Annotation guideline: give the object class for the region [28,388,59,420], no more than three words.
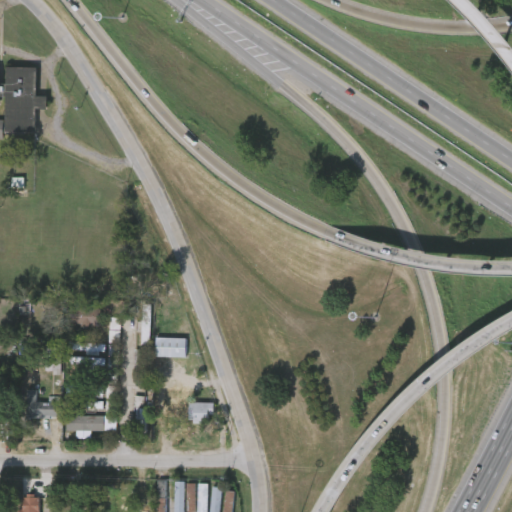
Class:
house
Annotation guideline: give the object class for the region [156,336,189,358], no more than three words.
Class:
barn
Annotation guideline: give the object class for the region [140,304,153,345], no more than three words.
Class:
house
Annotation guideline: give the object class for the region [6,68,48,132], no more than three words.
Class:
building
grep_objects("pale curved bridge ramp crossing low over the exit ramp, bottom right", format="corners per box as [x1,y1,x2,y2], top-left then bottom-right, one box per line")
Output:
[312,311,512,512]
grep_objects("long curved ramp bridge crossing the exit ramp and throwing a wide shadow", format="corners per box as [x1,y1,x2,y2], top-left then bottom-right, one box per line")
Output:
[328,228,512,276]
